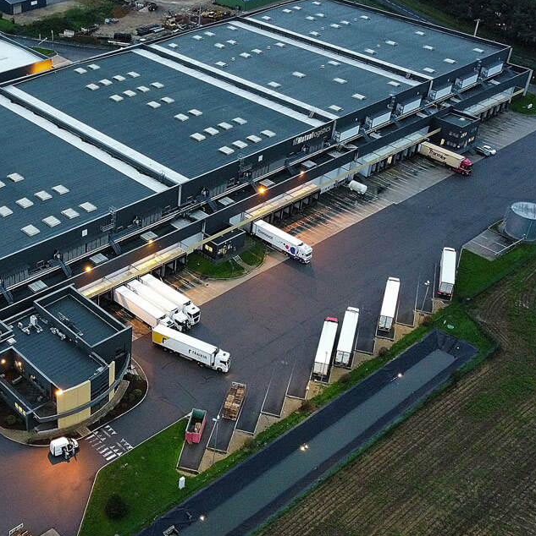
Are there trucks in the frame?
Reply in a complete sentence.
Yes, looking at the shot, I can spot a truck.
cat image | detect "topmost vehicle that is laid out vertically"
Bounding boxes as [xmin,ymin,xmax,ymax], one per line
[438,248,455,297]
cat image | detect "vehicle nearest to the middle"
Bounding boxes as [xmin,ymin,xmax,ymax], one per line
[253,219,313,263]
